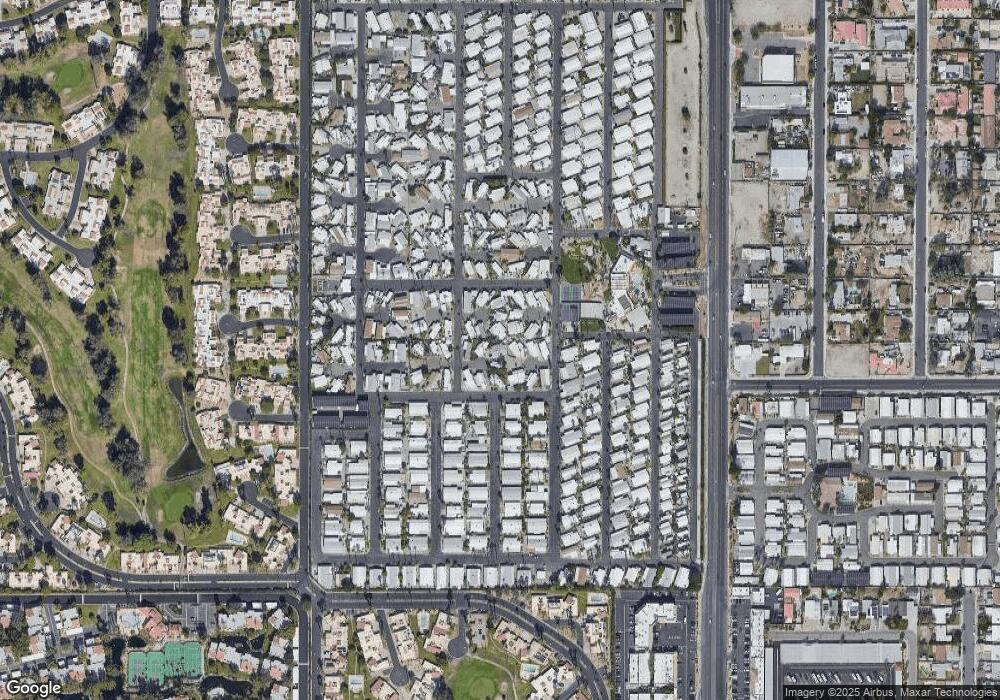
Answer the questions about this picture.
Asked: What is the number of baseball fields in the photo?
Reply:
0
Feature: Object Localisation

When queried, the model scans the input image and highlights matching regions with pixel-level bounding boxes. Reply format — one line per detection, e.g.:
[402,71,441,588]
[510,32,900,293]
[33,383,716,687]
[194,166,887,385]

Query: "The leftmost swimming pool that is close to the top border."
[89,28,112,50]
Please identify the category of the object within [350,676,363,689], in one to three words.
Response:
swimming pool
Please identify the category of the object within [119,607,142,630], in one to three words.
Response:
swimming pool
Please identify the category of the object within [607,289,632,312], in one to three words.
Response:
building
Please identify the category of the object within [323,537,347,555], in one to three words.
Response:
house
